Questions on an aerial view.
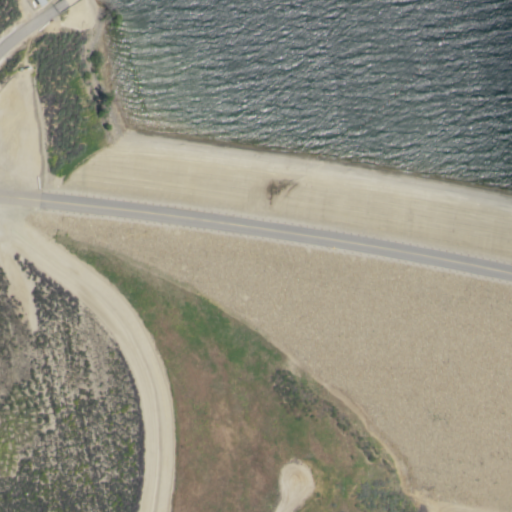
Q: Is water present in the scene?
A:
Yes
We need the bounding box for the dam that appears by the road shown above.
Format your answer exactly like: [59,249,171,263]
[26,129,512,511]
